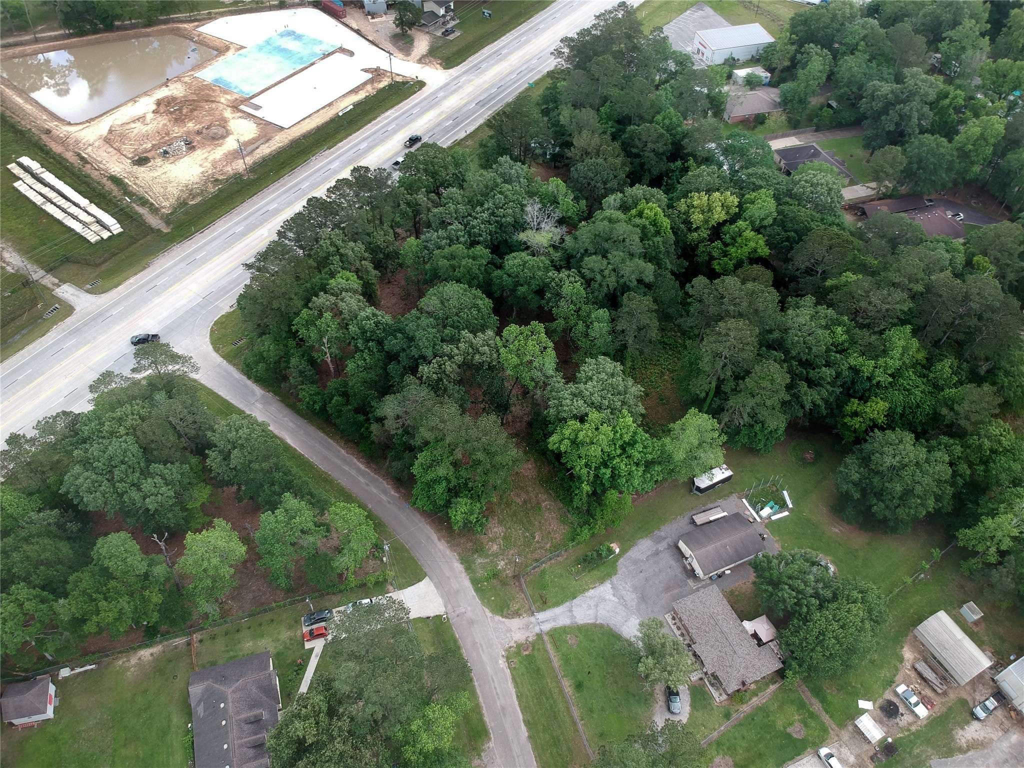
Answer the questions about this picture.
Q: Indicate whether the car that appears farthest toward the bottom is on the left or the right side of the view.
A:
right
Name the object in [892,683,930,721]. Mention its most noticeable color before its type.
white car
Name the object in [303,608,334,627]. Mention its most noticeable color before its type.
gray car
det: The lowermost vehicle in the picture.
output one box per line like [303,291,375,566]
[815,745,843,768]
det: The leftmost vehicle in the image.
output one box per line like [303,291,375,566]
[131,333,161,346]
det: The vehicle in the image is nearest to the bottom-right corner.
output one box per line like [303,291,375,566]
[970,691,1007,722]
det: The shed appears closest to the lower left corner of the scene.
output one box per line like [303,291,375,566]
[2,677,63,726]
